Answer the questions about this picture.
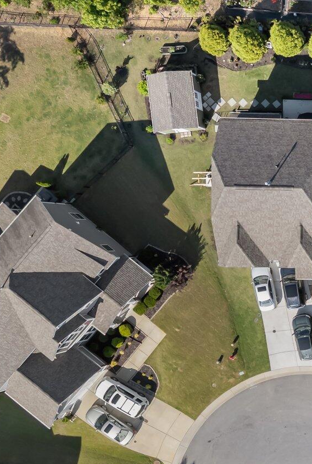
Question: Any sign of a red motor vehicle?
No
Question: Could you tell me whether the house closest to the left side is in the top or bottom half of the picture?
bottom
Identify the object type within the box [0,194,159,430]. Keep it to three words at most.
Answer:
house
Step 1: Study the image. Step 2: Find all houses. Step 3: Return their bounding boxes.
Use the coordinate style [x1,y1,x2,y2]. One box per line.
[211,116,312,280]
[0,194,159,430]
